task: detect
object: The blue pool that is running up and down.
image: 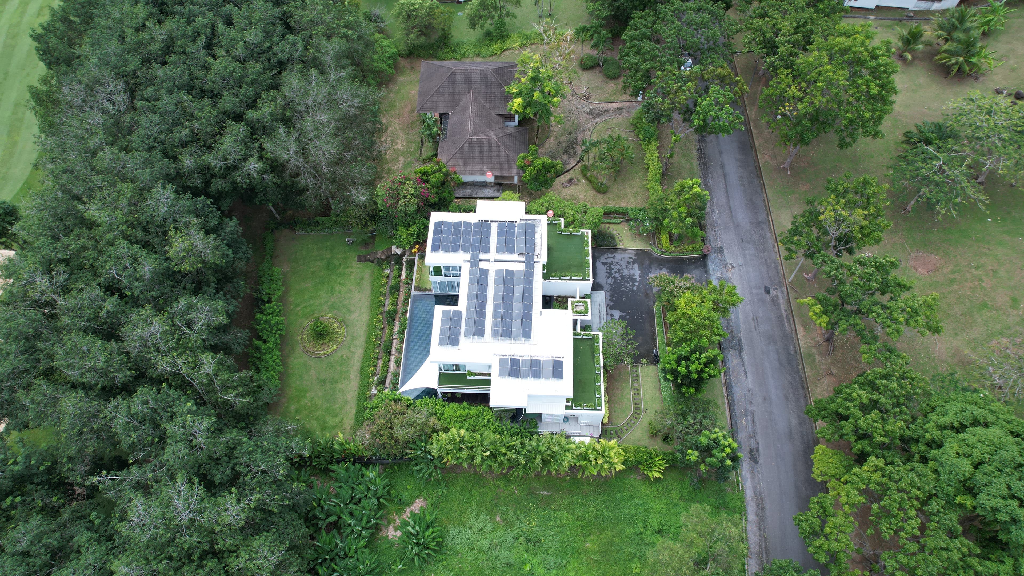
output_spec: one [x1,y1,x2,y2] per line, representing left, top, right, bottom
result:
[398,292,460,409]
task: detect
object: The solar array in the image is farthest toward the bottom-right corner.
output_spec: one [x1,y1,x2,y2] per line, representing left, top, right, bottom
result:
[499,358,563,380]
